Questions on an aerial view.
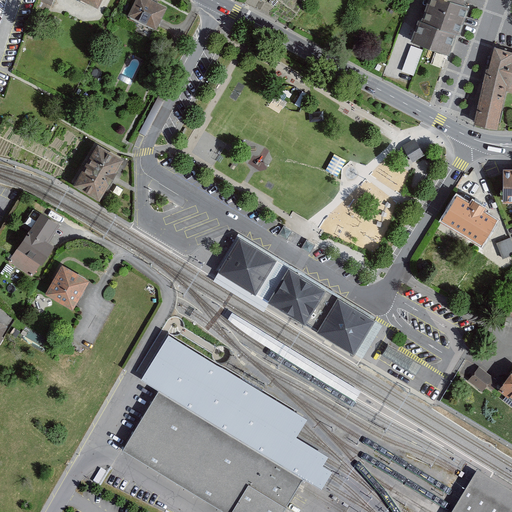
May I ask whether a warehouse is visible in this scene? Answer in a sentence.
Yes, there's a warehouse here.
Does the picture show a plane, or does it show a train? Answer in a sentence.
Of the two, only a train appears.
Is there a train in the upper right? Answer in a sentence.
No, no train can be made out in the upper right.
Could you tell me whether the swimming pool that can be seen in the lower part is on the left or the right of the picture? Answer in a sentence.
You can find the swimming pool that can be seen in the lower part on the left side of the picture.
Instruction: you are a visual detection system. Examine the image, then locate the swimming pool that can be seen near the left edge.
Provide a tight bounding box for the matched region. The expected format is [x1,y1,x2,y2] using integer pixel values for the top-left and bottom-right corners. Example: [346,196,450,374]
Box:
[21,330,45,352]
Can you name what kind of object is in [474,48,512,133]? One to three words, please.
building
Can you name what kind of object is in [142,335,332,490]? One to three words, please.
warehouse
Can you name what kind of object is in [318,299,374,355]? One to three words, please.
building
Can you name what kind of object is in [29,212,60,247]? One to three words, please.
house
